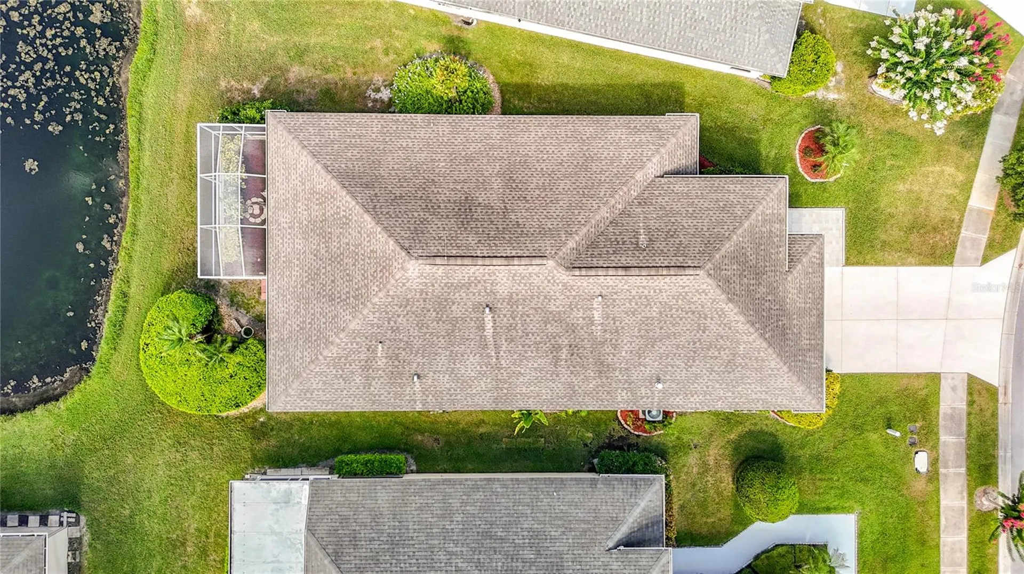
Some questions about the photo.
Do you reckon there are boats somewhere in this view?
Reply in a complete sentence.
No, the frame has no boat in it.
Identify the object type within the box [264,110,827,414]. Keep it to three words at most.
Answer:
house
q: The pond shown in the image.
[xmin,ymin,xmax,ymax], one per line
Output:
[0,0,128,392]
